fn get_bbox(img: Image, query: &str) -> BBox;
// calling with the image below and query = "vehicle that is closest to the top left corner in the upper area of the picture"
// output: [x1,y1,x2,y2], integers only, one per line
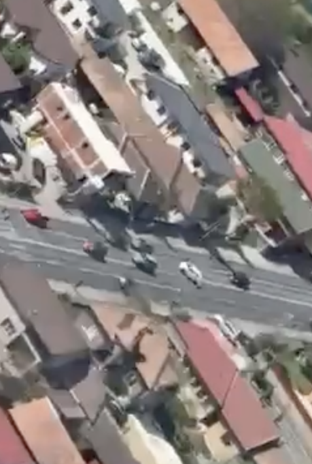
[0,155,18,170]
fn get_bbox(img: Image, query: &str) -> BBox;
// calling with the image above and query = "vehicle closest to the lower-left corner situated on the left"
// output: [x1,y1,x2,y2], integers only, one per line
[81,243,103,258]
